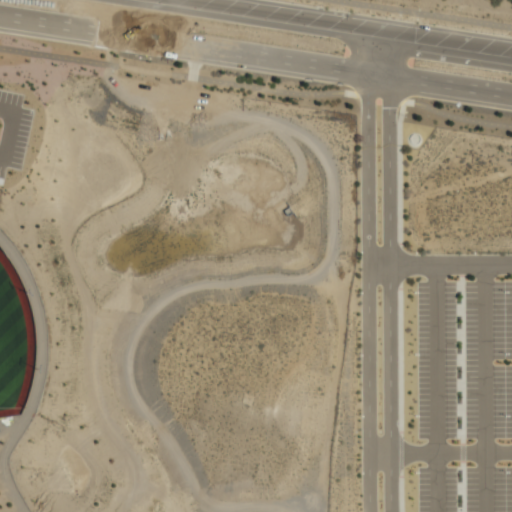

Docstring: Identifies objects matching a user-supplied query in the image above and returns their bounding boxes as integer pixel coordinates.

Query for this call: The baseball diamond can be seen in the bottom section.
[0,247,36,417]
